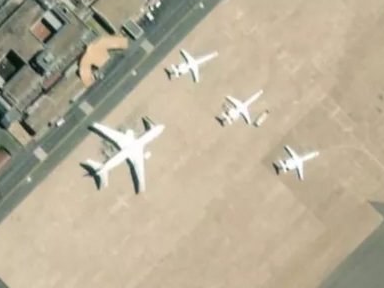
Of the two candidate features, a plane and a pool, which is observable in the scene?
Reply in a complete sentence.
It is a plane that can be seen here.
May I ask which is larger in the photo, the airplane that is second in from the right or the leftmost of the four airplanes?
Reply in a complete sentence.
The leftmost of the four airplanes is bigger than the airplane that is second in from the right.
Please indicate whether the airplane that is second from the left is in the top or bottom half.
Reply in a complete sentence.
The airplane that is second from the left sits in the top half of the picture.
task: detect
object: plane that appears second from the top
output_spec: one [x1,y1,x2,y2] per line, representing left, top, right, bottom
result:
[220,91,262,126]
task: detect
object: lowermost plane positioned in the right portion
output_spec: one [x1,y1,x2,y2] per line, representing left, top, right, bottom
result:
[278,145,318,180]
